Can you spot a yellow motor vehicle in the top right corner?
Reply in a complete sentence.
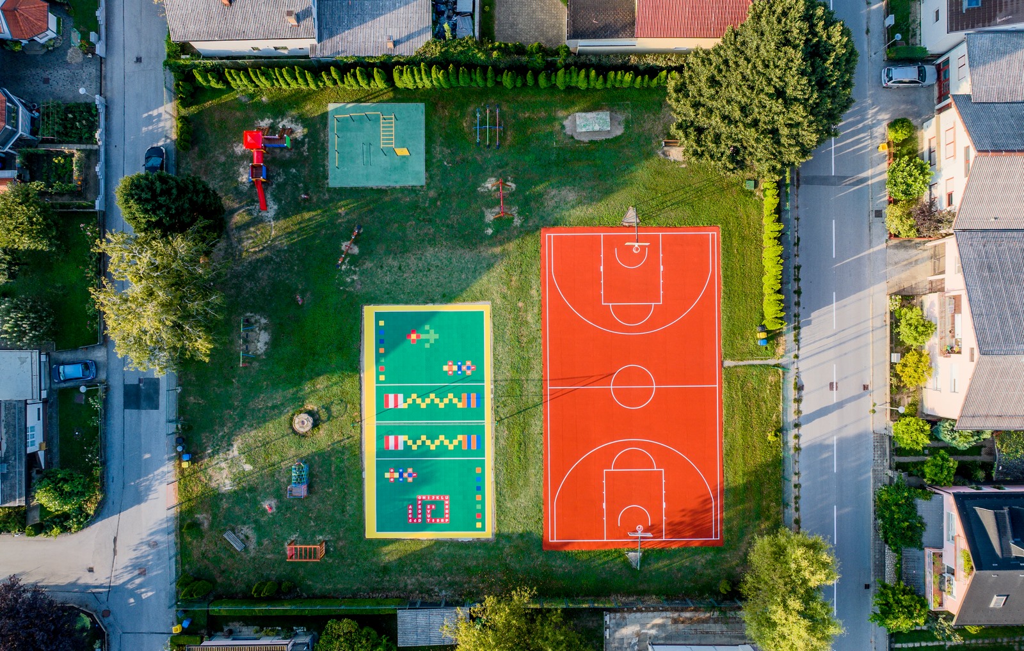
No, there is no yellow motor vehicle in the top right corner.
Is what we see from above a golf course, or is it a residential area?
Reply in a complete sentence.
This looks like a residential area.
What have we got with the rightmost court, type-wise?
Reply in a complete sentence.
The rightmost court in the image is a basketball court.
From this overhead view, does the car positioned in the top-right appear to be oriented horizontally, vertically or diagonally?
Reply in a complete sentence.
The car positioned in the top-right has been laid out horizontally relative to the frame.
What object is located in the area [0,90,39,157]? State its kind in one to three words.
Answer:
house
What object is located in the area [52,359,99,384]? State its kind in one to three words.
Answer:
car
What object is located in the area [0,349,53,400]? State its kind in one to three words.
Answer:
building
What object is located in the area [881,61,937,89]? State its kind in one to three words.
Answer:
car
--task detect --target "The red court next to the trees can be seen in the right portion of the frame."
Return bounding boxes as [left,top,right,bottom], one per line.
[541,226,723,551]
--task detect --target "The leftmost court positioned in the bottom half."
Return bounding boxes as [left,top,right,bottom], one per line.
[360,302,496,542]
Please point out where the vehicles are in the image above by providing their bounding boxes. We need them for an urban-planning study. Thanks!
[142,147,169,175]
[52,359,99,384]
[881,61,937,89]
